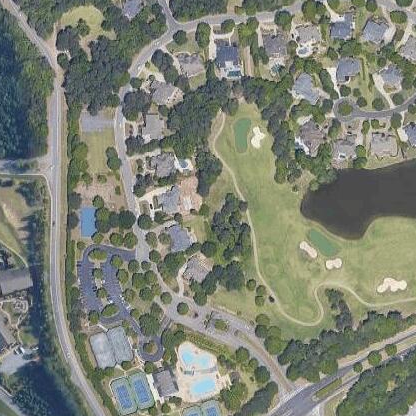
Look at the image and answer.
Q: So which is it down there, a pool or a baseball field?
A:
pool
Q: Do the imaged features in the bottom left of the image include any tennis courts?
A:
Yes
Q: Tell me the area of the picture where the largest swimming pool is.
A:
bottom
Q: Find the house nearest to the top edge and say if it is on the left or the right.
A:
left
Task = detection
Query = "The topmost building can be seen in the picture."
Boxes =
[121,0,142,20]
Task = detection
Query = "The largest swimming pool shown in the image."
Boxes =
[176,341,231,401]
